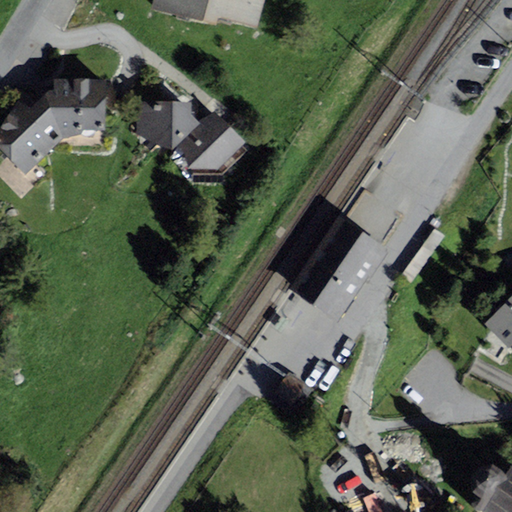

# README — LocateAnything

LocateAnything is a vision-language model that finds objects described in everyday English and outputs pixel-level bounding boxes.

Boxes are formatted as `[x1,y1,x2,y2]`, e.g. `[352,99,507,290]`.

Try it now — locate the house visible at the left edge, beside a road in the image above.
[0,77,108,174]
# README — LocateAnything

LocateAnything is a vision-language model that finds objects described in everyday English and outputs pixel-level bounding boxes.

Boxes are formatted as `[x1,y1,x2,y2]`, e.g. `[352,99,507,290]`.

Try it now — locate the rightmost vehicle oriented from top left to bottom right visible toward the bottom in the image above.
[402,384,428,406]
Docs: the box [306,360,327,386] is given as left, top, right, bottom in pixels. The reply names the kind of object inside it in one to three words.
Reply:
truck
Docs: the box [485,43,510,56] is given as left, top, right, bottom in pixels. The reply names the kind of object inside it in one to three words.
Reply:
vehicle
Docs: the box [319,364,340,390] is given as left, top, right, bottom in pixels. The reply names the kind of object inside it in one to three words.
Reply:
vehicle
